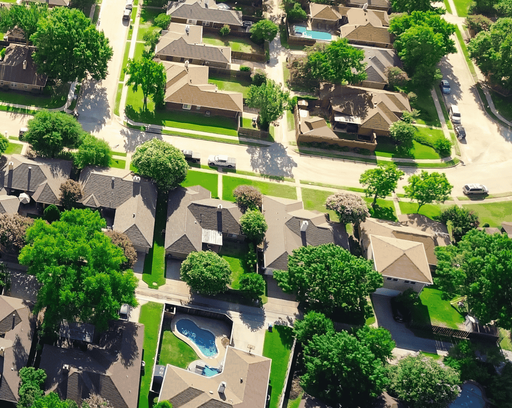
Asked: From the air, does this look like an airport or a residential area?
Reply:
residential area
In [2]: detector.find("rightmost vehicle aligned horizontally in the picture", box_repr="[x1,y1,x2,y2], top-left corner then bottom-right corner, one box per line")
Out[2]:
[464,184,492,197]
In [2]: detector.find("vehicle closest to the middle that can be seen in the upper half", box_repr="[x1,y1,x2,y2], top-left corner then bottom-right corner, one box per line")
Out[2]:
[208,156,238,170]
